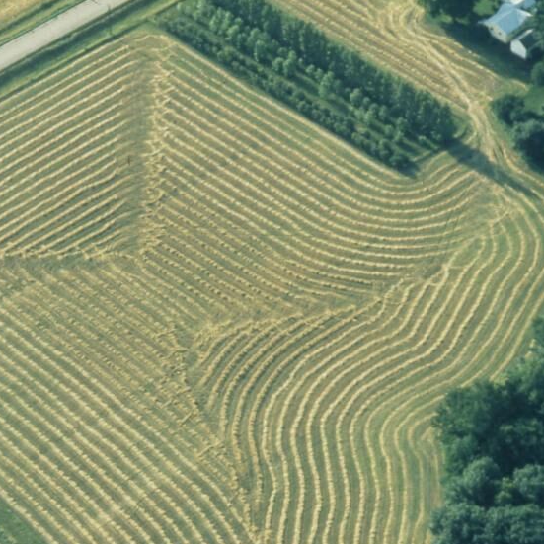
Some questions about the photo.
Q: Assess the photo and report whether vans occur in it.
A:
No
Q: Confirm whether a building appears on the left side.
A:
No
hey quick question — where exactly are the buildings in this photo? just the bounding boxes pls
[481,5,532,42]
[510,31,543,59]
